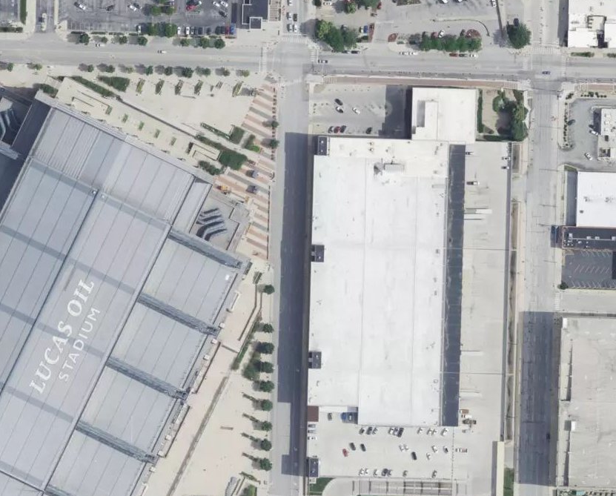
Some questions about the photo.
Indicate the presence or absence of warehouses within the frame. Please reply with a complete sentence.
Yes, there's a warehouse down there.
